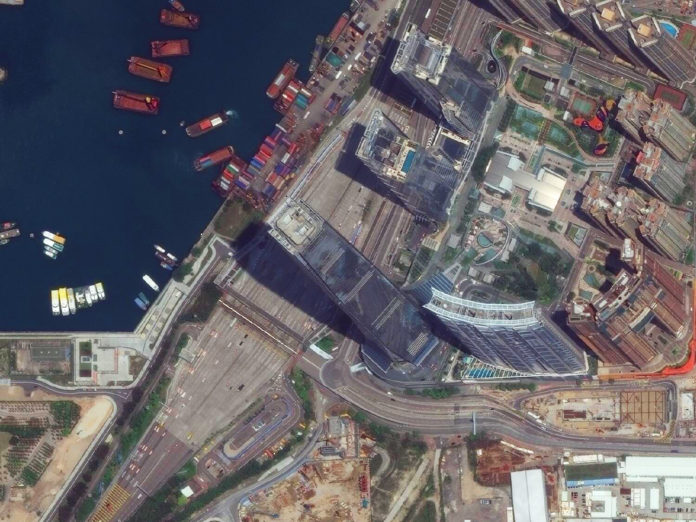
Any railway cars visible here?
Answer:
No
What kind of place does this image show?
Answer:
port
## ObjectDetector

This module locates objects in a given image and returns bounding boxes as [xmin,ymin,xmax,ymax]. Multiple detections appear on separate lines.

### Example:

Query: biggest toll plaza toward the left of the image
[152,300,299,452]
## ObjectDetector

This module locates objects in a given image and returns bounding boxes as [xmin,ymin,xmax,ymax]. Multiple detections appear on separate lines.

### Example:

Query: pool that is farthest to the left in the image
[402,149,416,174]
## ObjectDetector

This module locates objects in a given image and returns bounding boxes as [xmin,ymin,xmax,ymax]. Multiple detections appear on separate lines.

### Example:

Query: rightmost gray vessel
[310,37,322,70]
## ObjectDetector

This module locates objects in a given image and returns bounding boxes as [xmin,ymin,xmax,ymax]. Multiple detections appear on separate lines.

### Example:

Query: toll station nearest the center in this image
[218,283,307,355]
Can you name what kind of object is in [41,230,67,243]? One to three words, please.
vessel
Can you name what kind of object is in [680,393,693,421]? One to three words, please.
shed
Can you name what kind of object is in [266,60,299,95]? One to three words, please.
ship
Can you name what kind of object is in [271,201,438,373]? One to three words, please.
building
